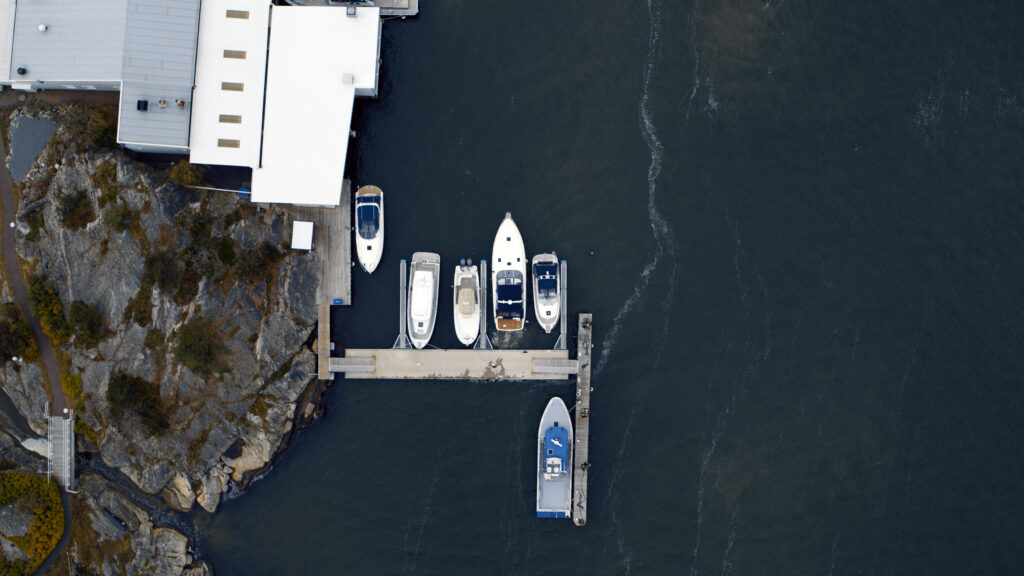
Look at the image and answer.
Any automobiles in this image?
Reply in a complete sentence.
No, this view has no automobile in it.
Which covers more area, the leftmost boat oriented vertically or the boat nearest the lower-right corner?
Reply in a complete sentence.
The boat nearest the lower-right corner takes up more space than the leftmost boat oriented vertically.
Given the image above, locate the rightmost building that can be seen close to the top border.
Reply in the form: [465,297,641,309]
[251,6,387,207]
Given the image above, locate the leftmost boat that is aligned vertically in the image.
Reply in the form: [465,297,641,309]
[356,185,384,272]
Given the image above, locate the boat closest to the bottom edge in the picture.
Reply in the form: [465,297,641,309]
[536,396,574,519]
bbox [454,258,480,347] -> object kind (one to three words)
boat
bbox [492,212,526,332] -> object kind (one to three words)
boat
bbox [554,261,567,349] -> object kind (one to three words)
pier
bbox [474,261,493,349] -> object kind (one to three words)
pier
